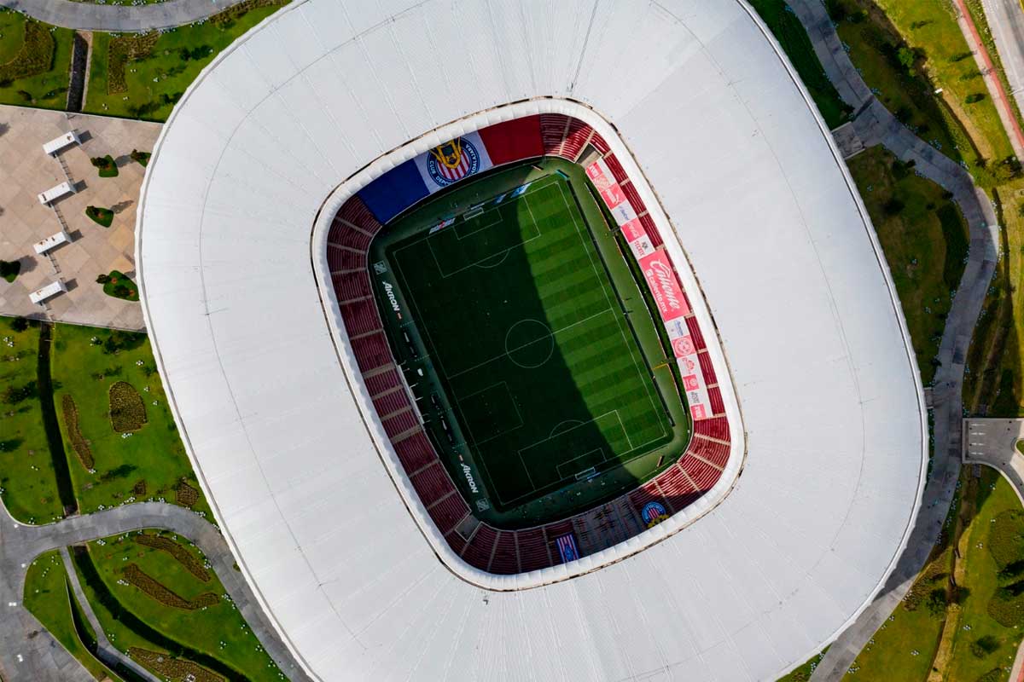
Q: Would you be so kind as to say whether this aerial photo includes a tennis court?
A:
No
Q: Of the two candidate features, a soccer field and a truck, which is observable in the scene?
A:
soccer field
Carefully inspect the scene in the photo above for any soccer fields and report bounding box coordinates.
[373,165,686,521]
